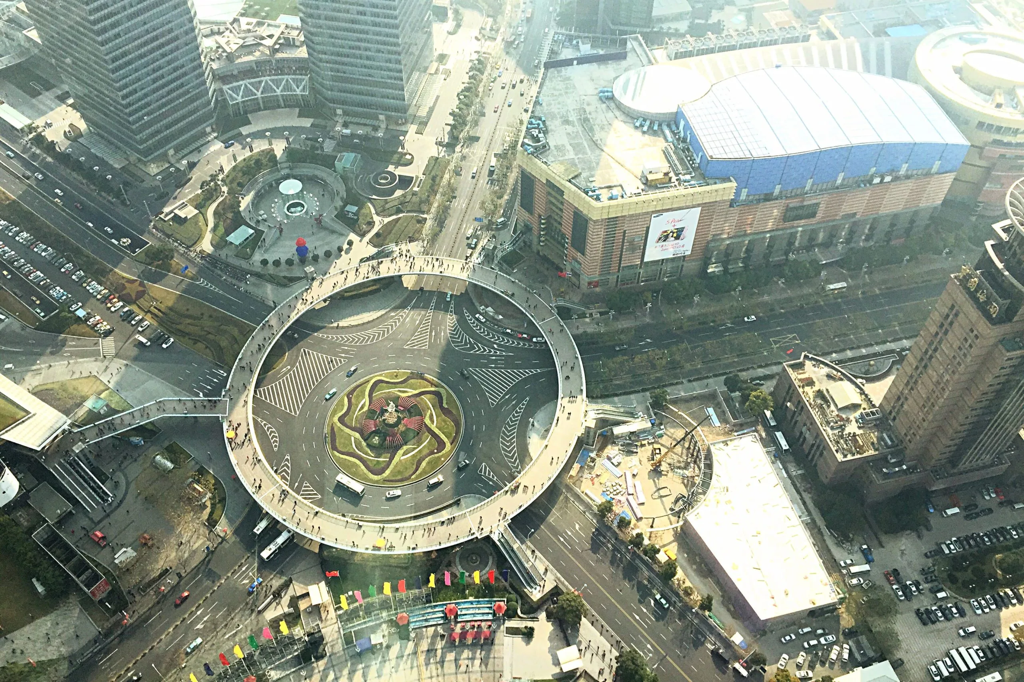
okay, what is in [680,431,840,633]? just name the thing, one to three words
shed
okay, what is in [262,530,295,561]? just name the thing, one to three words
bus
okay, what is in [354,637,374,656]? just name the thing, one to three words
tent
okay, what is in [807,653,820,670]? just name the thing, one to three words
vehicle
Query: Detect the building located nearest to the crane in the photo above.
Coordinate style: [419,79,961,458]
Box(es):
[608,417,656,442]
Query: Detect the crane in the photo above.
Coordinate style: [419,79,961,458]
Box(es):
[644,414,713,470]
